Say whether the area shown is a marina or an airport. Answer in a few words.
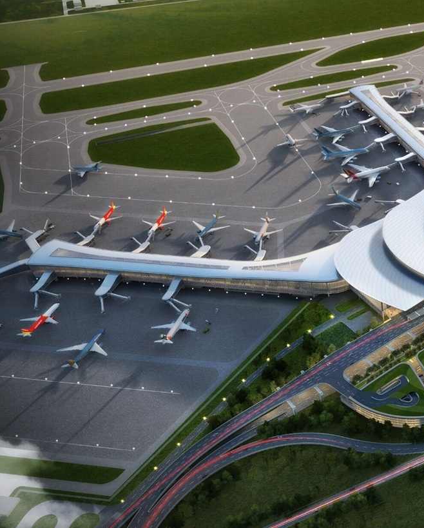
airport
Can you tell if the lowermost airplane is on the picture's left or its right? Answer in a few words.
left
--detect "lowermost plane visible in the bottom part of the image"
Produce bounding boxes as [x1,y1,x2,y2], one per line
[61,331,106,366]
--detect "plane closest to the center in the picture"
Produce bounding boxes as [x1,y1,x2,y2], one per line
[196,213,227,237]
